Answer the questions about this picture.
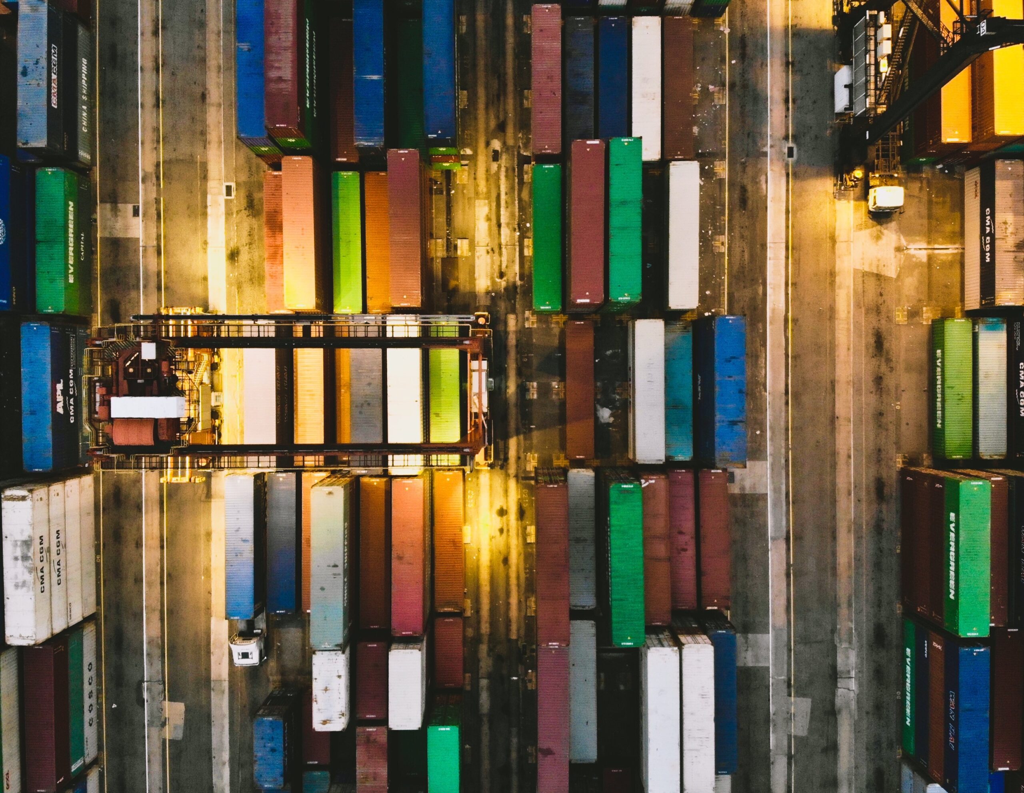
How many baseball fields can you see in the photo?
none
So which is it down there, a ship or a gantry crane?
gantry crane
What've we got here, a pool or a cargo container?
cargo container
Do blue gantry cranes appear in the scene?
No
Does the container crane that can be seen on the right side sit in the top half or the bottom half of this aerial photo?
top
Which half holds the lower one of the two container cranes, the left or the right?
left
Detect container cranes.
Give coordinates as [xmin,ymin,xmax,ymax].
[828,0,1024,199]
[76,306,503,486]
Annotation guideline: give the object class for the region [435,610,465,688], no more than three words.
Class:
shipping container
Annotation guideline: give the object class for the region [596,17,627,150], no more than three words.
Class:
shipping container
